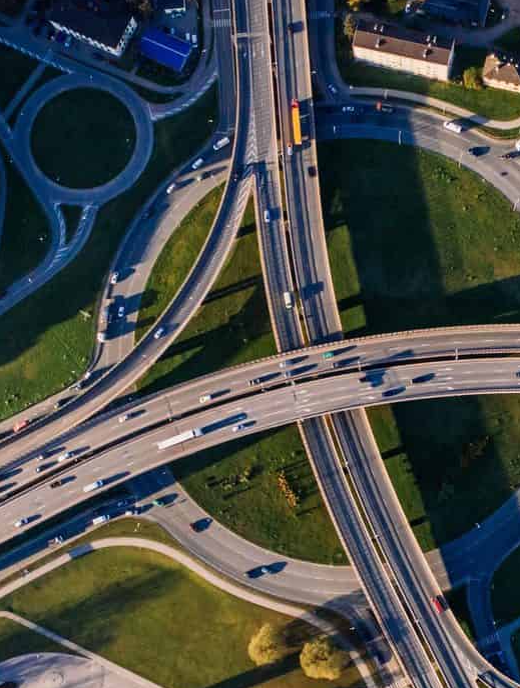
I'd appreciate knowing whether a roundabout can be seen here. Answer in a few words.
Yes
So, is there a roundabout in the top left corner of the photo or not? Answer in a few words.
Yes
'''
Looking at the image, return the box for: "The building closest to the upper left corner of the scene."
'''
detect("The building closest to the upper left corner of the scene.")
[47,0,141,60]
